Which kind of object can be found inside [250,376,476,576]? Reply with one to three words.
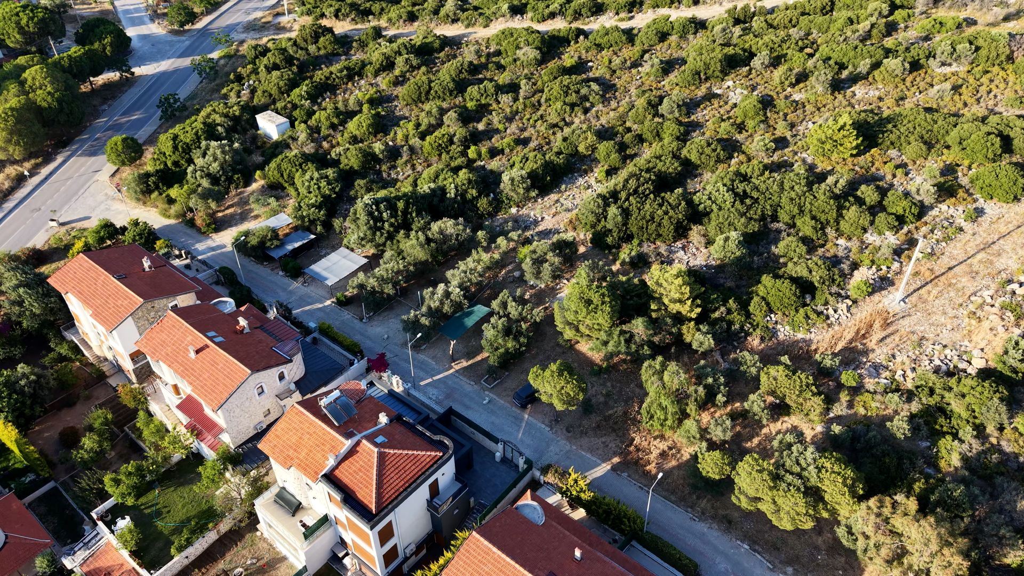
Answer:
house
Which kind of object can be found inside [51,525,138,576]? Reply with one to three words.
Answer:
shed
